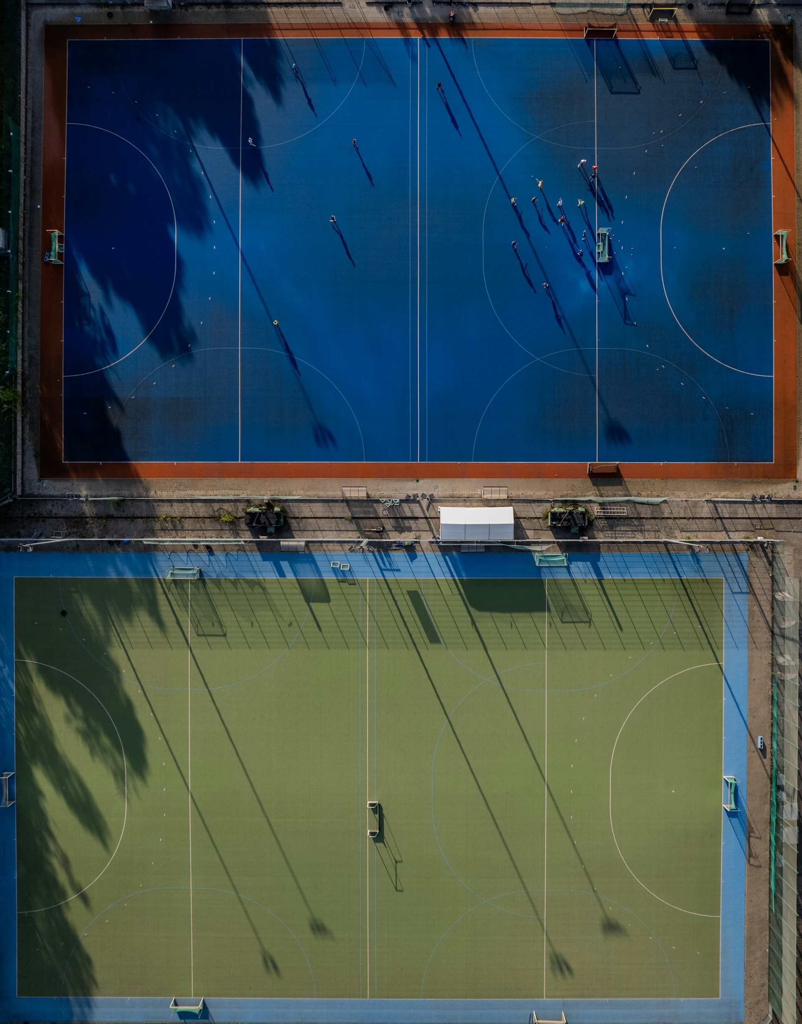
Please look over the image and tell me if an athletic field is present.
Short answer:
Yes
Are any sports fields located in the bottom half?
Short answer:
Yes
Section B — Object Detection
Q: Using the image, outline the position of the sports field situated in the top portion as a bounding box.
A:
[61,37,776,465]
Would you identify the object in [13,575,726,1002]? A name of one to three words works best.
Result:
sports field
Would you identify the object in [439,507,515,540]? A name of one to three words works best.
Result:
tent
